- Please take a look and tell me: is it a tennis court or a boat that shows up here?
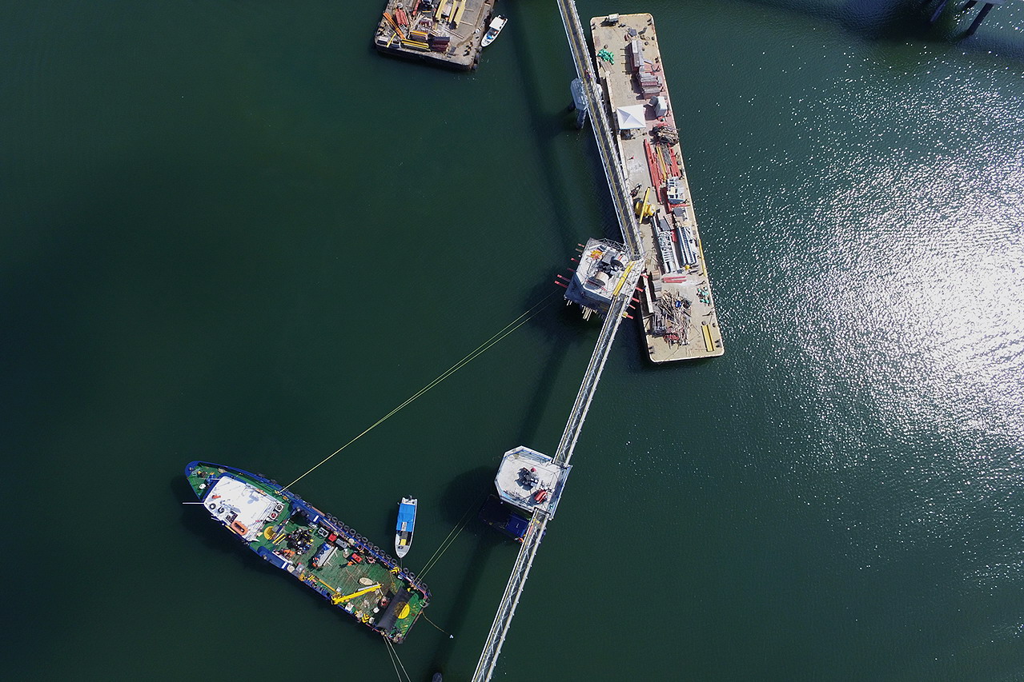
boat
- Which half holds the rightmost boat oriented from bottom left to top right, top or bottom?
top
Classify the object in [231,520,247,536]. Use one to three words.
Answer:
boat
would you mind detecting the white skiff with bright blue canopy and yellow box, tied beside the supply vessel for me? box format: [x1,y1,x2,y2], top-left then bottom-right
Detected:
[395,495,414,558]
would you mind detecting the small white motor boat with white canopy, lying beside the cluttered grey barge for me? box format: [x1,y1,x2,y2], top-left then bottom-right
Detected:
[483,10,510,48]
